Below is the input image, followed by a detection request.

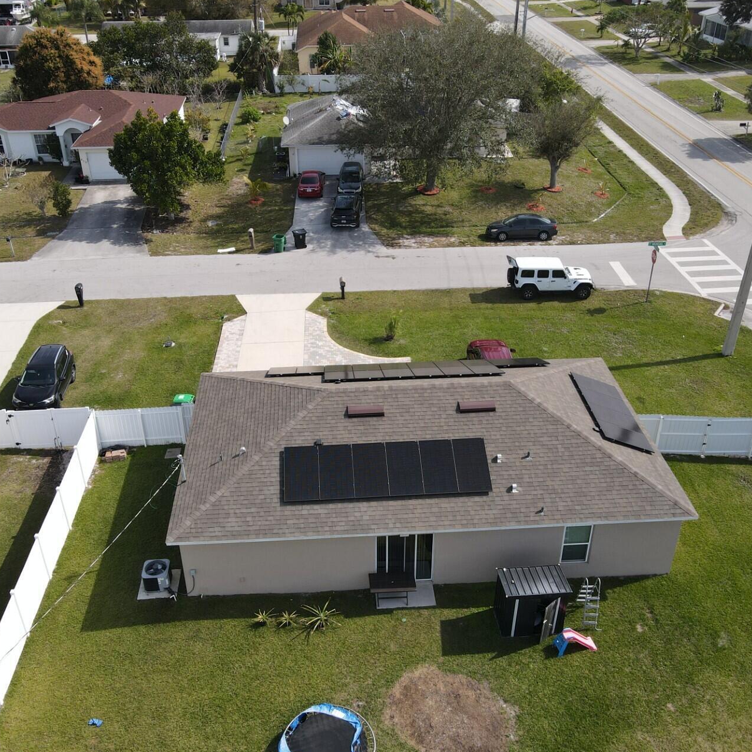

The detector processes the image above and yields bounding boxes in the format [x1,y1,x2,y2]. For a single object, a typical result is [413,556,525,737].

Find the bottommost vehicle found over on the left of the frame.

[19,336,83,411]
